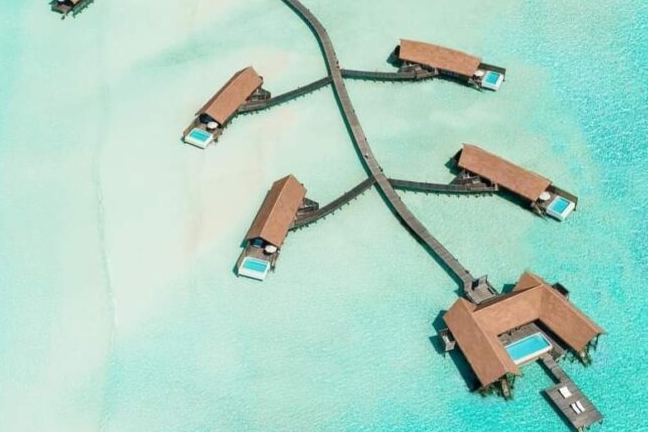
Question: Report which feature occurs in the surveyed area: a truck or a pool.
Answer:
pool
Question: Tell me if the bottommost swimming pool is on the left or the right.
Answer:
right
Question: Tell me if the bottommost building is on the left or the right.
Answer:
right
